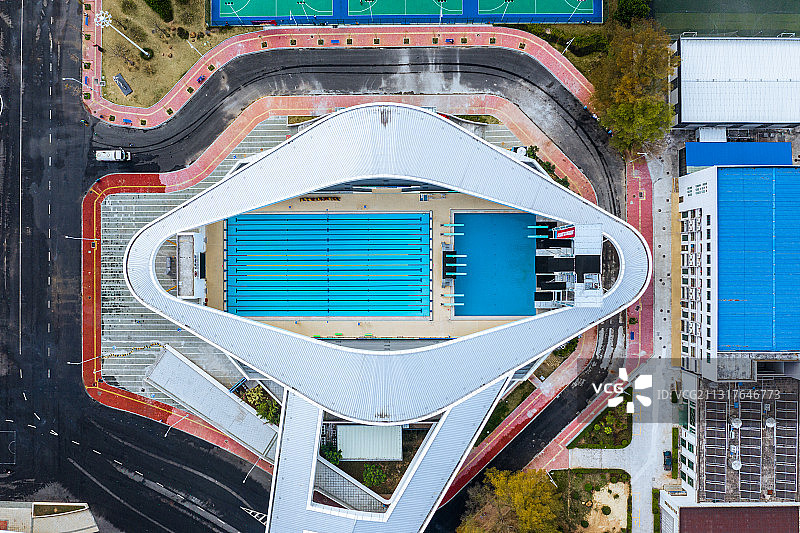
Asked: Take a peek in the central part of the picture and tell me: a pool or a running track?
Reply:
pool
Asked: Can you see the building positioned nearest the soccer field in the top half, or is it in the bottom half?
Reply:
top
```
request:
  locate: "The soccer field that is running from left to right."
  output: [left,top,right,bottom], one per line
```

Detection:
[653,0,800,37]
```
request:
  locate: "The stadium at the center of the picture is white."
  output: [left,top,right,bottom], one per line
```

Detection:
[123,102,653,426]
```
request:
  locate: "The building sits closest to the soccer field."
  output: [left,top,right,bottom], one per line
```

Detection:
[670,36,800,126]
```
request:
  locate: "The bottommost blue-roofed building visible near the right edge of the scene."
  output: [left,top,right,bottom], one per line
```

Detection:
[677,166,800,385]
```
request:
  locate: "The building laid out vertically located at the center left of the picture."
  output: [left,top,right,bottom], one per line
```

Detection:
[177,228,208,302]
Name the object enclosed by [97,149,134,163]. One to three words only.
vehicle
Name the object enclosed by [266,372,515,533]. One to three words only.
building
